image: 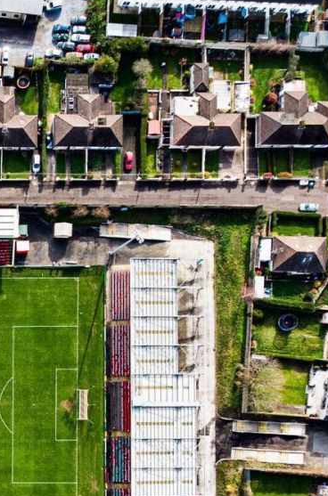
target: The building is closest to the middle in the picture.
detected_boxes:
[96,222,173,242]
